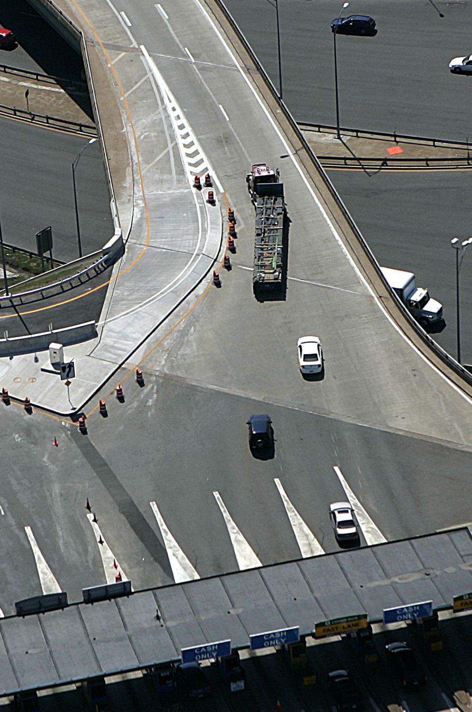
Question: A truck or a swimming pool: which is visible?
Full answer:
The one in the frame is a truck.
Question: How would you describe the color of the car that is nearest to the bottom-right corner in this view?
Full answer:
The car that is nearest to the bottom-right corner is black.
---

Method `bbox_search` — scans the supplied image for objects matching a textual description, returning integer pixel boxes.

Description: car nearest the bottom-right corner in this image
[378,636,424,686]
